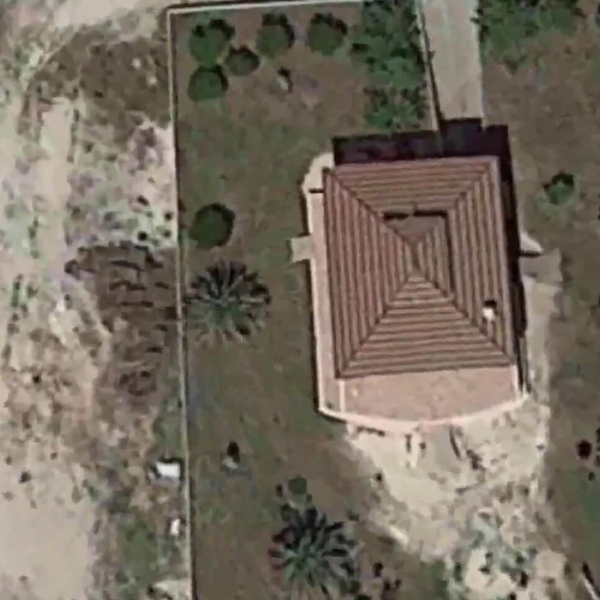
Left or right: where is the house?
right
